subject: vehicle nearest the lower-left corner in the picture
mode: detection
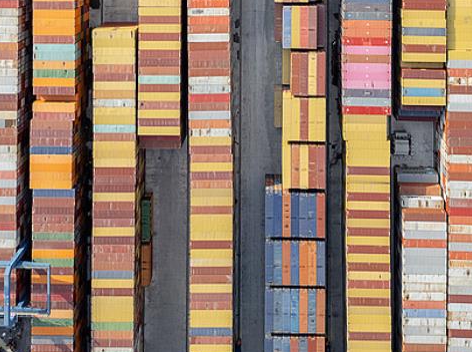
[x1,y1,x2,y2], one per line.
[5,330,17,350]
